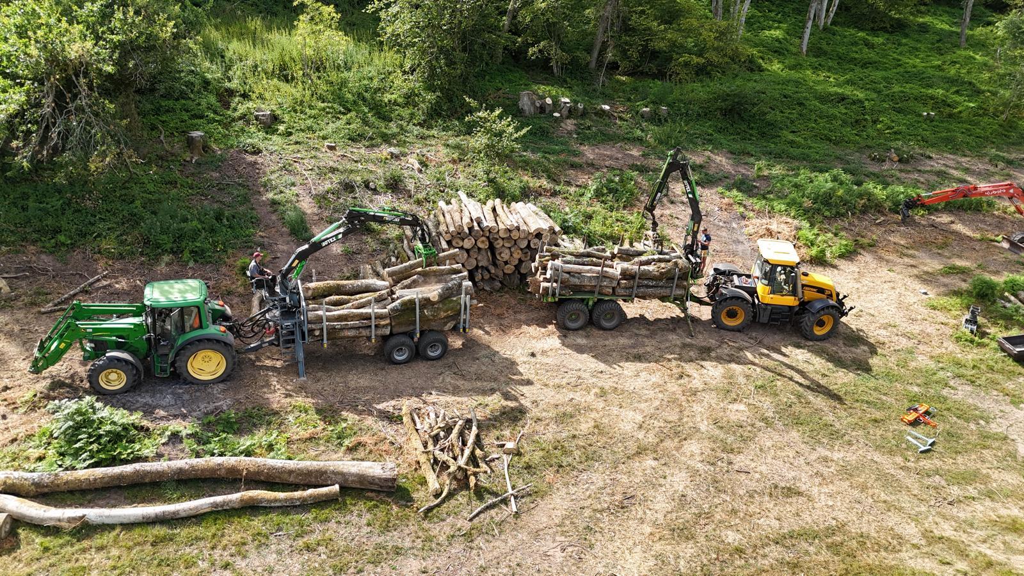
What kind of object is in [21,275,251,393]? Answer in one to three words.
work vehicle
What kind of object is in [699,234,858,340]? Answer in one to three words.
work vehicle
